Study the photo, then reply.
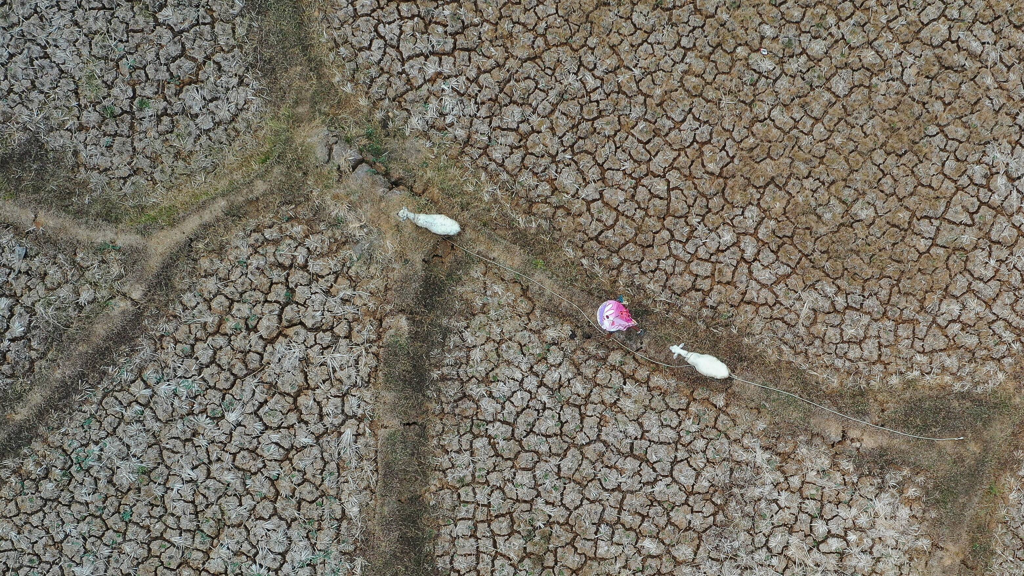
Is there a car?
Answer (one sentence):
No, I can see no car in this picture.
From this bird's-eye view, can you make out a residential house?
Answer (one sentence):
No, the frame has no residential house in it.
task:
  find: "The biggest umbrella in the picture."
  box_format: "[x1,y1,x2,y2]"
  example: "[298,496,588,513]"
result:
[596,300,637,332]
